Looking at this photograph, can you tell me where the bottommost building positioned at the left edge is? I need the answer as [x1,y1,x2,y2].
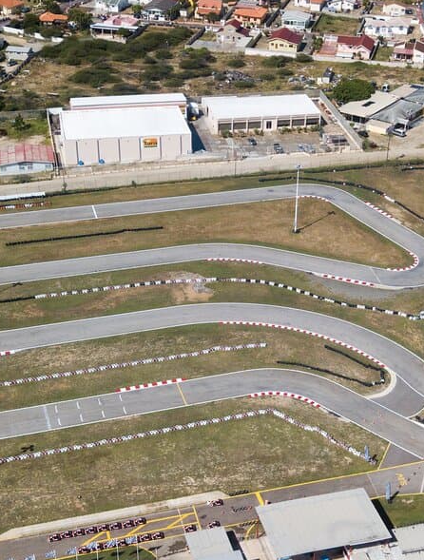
[0,140,55,176]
